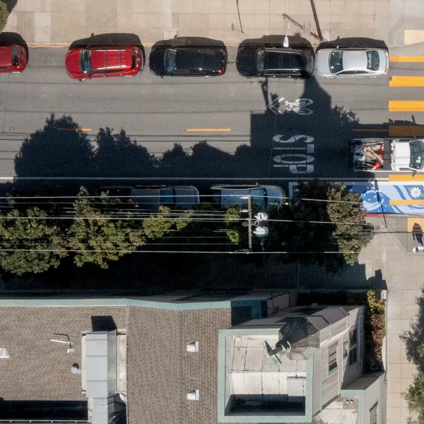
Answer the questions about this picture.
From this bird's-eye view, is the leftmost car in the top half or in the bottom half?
top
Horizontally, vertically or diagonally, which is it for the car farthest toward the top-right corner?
horizontally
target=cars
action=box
[103,179,199,213]
[209,180,287,214]
[236,43,315,81]
[67,43,147,81]
[0,43,33,75]
[151,43,230,79]
[315,44,390,81]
